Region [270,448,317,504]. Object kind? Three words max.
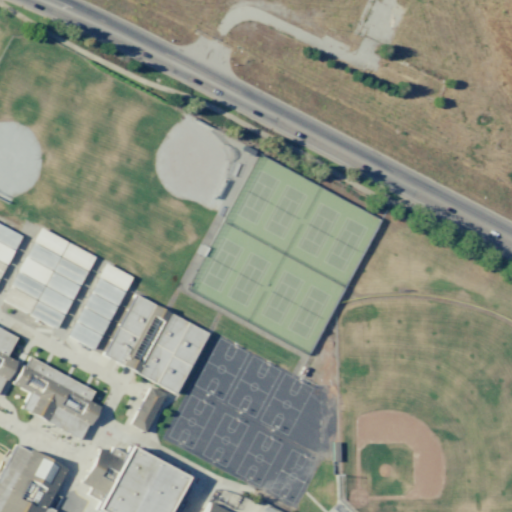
basketball court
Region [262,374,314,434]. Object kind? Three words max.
basketball court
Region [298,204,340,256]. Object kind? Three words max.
tennis court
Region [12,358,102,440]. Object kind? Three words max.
building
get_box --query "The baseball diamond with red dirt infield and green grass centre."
[350,410,446,507]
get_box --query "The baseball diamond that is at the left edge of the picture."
[0,122,42,196]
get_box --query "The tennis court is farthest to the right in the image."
[326,218,368,270]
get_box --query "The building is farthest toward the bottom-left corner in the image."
[0,445,68,512]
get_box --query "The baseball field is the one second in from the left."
[156,114,240,212]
